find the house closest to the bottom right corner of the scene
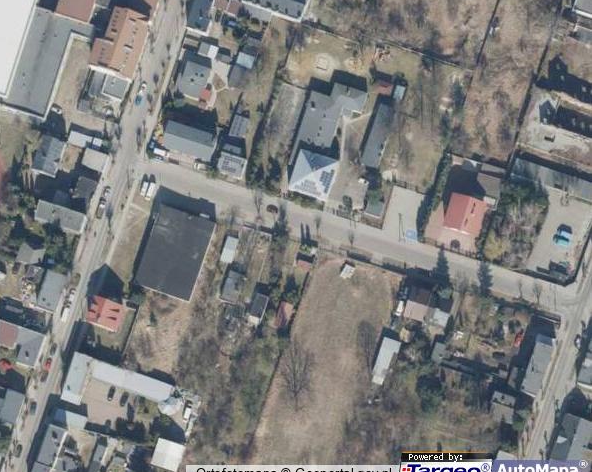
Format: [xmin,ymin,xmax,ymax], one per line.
[552,414,592,472]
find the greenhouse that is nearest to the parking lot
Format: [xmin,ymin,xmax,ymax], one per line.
[512,163,592,204]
